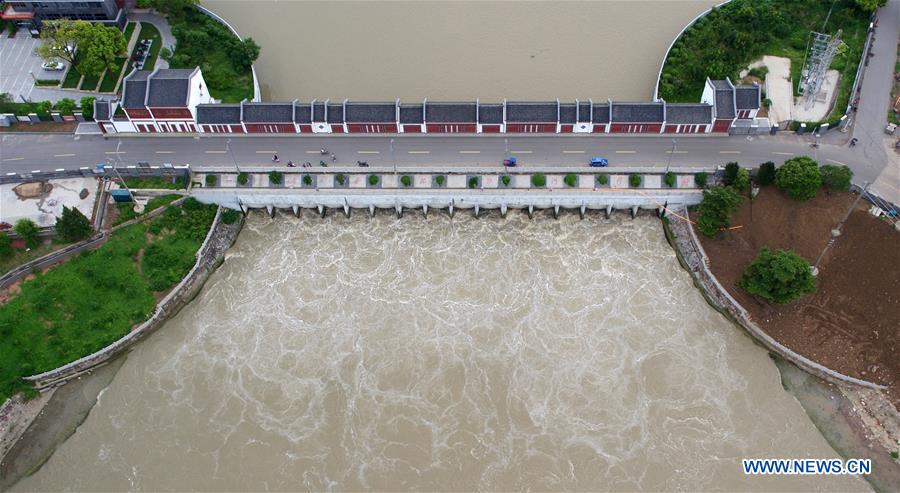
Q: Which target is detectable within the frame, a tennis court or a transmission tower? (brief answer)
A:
transmission tower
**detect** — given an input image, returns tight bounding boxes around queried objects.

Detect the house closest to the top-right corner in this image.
[738,84,764,120]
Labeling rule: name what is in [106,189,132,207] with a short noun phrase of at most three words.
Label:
shed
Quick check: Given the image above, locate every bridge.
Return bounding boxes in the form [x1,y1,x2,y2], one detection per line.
[180,121,710,224]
